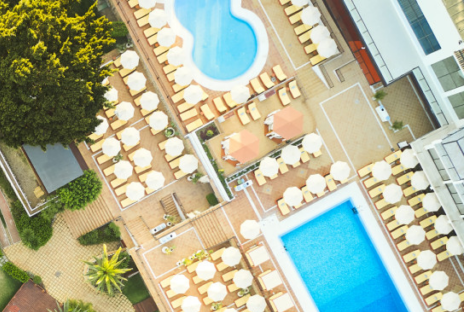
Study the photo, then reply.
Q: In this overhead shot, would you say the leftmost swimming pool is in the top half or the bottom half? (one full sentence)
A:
The leftmost swimming pool is in the top half of the image.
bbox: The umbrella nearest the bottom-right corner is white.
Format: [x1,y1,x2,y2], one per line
[437,291,459,311]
